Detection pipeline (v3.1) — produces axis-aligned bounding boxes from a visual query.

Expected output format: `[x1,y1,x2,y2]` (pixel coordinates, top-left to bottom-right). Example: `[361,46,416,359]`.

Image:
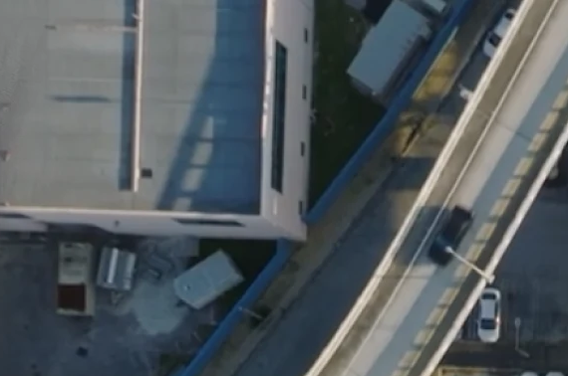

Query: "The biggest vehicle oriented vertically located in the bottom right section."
[475,287,501,342]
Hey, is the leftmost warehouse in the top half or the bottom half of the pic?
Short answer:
top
